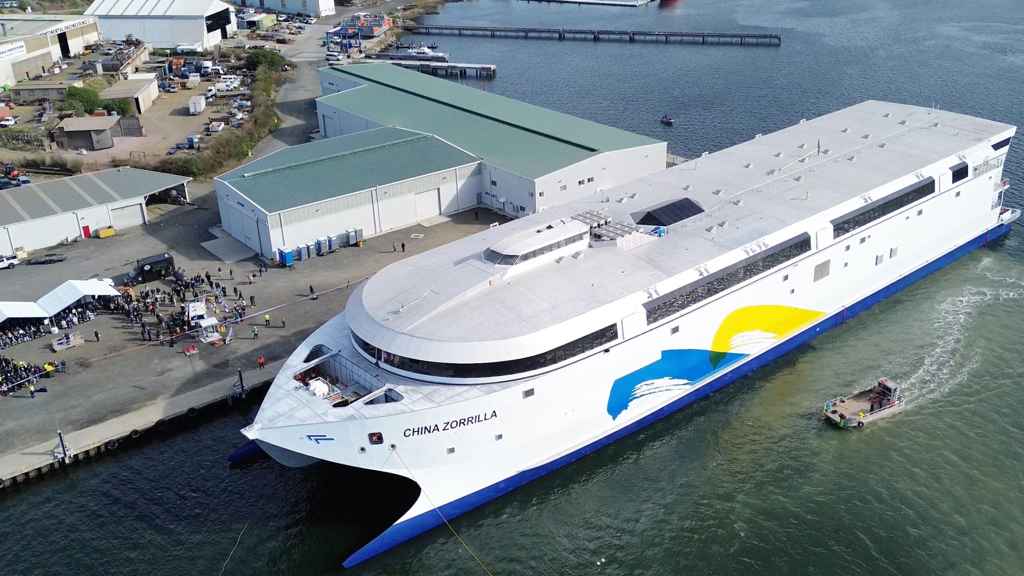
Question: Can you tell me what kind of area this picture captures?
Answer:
port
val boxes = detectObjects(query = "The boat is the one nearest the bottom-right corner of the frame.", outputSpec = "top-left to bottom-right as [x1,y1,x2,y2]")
[820,372,908,428]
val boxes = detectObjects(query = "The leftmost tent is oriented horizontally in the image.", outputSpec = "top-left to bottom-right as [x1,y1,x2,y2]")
[0,302,52,327]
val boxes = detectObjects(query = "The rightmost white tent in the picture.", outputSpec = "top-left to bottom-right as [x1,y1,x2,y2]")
[37,282,126,326]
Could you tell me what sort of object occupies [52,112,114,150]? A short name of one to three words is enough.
building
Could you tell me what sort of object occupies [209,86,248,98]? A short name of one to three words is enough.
vehicle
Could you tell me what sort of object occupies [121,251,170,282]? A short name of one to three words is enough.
truck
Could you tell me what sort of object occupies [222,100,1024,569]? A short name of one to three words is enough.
ship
